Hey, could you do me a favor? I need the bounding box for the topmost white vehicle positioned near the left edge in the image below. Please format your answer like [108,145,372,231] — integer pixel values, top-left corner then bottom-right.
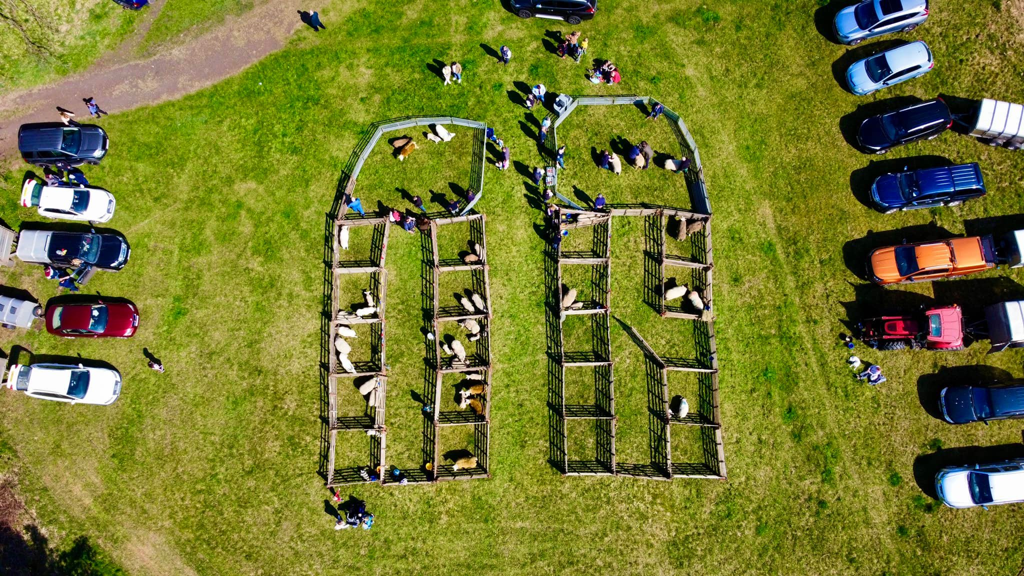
[22,181,118,222]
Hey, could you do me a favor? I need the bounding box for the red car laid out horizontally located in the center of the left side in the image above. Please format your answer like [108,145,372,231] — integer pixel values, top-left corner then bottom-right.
[45,295,140,338]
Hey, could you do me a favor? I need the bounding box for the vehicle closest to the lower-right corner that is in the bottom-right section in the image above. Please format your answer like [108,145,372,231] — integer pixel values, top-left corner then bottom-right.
[930,454,1024,506]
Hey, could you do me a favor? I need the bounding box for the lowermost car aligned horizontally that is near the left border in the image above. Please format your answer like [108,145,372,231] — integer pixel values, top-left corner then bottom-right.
[8,360,122,405]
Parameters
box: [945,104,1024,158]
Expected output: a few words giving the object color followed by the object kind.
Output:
white trailer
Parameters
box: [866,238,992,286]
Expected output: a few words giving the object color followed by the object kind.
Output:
orange truck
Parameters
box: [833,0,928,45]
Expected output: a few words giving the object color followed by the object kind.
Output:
blue car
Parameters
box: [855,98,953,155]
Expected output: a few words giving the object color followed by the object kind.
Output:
black car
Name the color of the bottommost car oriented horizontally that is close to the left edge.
white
